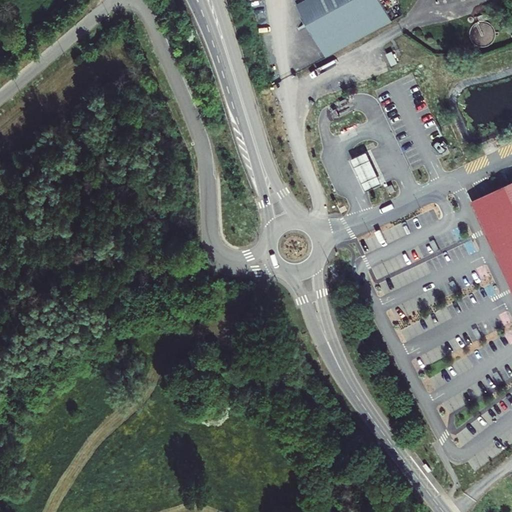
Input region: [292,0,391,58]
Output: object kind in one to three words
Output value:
building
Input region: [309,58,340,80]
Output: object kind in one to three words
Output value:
truck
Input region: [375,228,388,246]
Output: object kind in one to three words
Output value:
vehicle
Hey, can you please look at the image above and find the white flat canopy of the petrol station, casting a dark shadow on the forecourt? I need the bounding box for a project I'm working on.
[350,153,380,191]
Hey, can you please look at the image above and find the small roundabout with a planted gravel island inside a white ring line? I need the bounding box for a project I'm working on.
[256,194,358,300]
